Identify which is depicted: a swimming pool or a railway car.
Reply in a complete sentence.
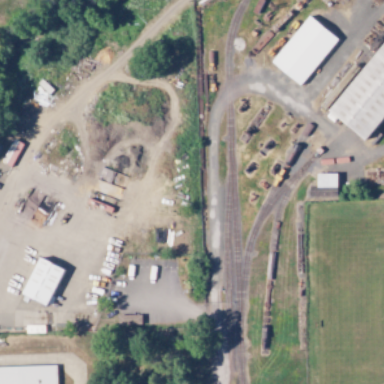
The one in the frame is a railway car.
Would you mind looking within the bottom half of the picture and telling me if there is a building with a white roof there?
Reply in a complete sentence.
Yes, I can see a building with a white roof within the bottom half of the picture.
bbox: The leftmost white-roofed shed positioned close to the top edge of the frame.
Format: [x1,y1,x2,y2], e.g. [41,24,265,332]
[273,16,339,85]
